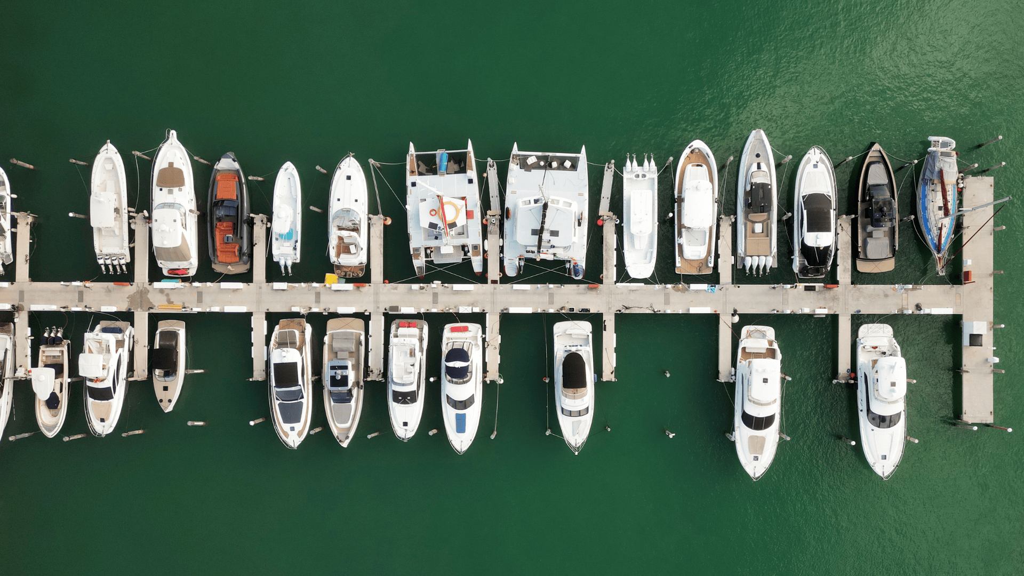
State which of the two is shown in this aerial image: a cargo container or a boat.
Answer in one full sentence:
This aerial view contains a boat.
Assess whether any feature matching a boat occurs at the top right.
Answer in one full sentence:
Yes, there is a boat at the top right.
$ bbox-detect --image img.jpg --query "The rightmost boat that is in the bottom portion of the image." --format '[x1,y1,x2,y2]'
[854,323,906,480]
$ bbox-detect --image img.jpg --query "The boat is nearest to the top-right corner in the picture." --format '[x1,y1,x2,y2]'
[928,135,960,152]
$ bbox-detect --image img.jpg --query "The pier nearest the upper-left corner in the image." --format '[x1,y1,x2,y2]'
[14,215,35,283]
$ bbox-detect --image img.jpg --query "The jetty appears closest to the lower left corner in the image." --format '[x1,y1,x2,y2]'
[14,311,34,378]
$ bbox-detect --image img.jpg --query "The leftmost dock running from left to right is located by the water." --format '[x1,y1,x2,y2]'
[0,283,963,314]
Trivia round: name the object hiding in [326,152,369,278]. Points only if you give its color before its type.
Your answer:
white boat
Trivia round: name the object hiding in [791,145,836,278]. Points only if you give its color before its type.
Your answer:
white boat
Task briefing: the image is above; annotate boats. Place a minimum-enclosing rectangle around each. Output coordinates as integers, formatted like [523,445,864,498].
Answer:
[854,142,897,273]
[735,325,781,482]
[920,151,1012,275]
[928,135,960,152]
[432,245,464,263]
[324,318,367,448]
[504,142,588,280]
[388,319,429,442]
[326,152,369,278]
[92,139,131,275]
[0,322,17,438]
[210,151,253,274]
[152,320,189,413]
[270,319,316,450]
[737,127,778,277]
[791,145,836,278]
[623,152,658,278]
[854,323,906,480]
[406,139,483,279]
[266,160,302,277]
[152,130,201,277]
[0,168,17,266]
[799,270,828,279]
[31,325,73,438]
[441,323,483,456]
[555,321,597,453]
[79,315,139,437]
[674,139,717,274]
